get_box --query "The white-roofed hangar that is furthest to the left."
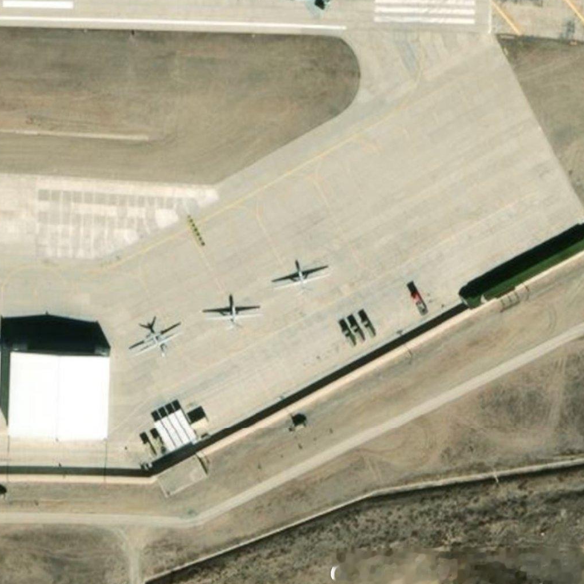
[8,344,110,442]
